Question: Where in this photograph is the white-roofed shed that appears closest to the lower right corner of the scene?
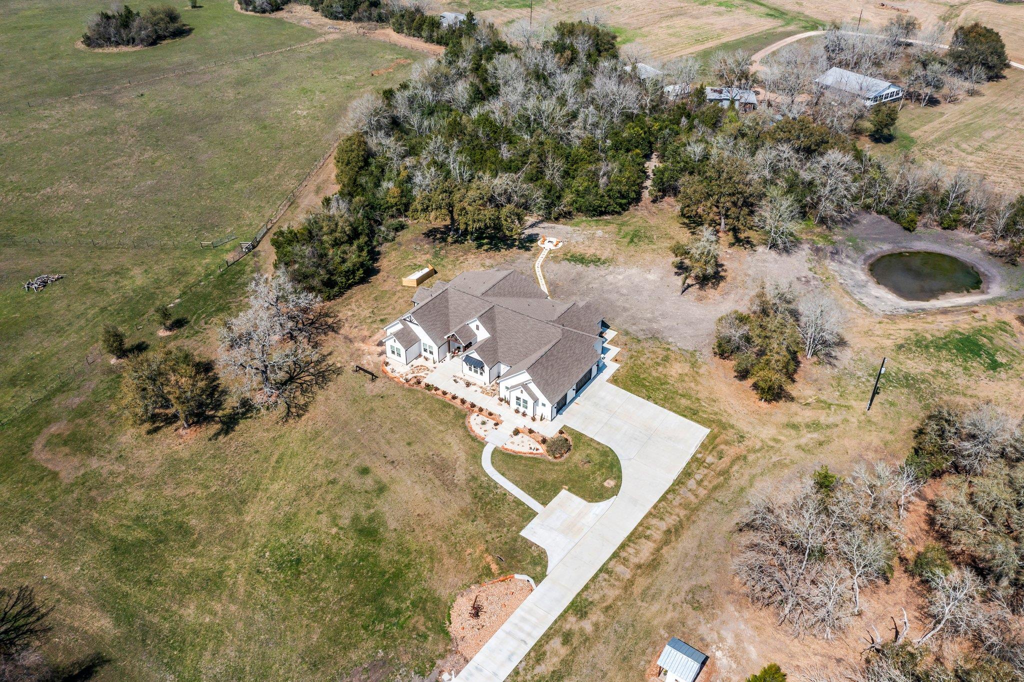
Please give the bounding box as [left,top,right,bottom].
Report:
[656,642,705,682]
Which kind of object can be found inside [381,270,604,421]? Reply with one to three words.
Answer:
house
